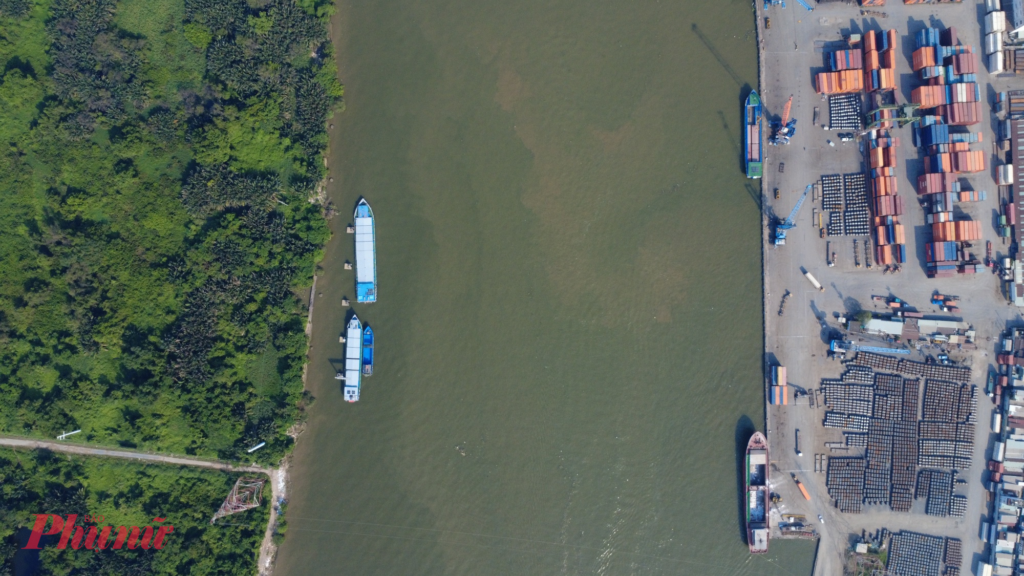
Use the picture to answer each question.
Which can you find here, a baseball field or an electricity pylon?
electricity pylon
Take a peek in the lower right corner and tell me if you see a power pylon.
Yes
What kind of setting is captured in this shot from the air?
port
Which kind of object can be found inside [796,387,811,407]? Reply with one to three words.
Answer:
work vehicle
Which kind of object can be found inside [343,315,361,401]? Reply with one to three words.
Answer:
ship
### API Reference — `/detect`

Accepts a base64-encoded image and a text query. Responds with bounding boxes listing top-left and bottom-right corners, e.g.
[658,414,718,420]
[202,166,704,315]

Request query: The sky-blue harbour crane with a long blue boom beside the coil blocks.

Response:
[765,185,811,242]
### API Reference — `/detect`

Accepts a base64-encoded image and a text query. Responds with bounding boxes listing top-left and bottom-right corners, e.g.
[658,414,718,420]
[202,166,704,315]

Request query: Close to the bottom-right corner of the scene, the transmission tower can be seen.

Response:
[855,555,894,576]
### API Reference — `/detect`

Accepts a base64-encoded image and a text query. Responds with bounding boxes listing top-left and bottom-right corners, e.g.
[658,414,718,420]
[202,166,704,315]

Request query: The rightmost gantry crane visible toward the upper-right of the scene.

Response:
[864,102,925,129]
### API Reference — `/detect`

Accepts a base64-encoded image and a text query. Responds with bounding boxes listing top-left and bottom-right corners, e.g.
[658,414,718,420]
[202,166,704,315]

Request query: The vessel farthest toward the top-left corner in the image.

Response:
[354,198,377,302]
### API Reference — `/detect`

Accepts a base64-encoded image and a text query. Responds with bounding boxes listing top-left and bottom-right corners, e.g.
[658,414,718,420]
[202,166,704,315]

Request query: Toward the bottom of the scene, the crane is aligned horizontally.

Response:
[829,340,912,360]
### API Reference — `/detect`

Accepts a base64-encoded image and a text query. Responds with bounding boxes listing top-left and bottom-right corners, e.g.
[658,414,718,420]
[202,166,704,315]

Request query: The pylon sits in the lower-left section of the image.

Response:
[210,482,259,526]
